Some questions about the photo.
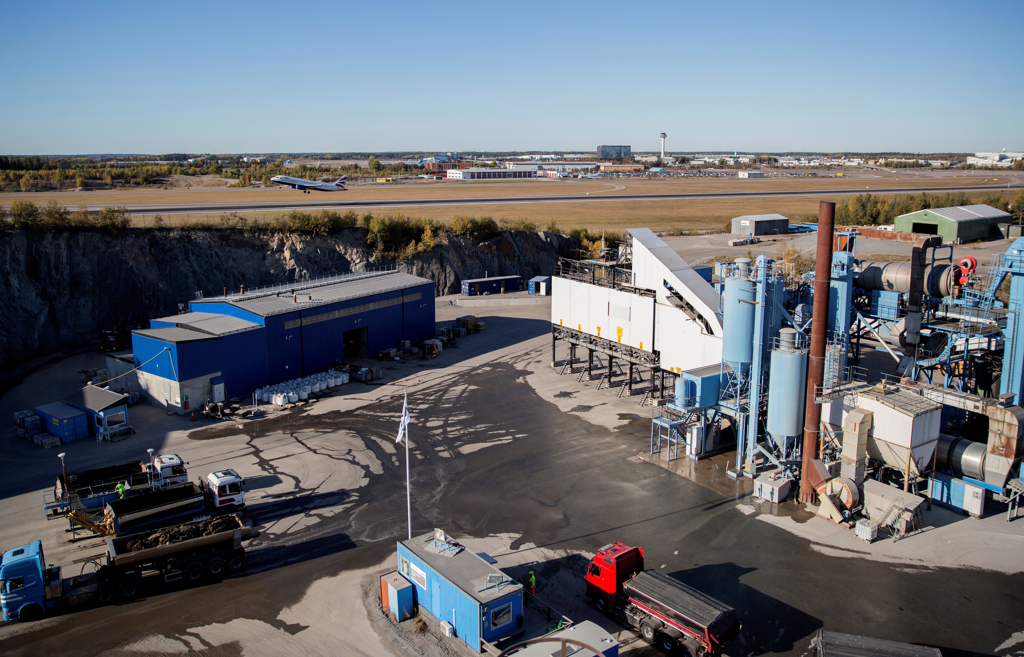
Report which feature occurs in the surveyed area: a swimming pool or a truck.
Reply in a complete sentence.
It is a truck that can be seen here.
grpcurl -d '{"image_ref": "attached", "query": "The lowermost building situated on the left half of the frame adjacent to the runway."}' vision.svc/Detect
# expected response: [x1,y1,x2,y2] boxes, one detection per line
[101,261,437,414]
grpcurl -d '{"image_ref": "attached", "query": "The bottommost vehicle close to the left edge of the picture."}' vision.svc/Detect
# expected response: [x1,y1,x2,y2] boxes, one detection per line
[0,512,254,626]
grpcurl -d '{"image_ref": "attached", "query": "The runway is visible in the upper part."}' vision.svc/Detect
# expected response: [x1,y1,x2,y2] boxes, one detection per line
[1,184,1024,218]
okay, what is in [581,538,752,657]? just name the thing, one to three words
truck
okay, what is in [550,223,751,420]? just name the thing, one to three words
building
